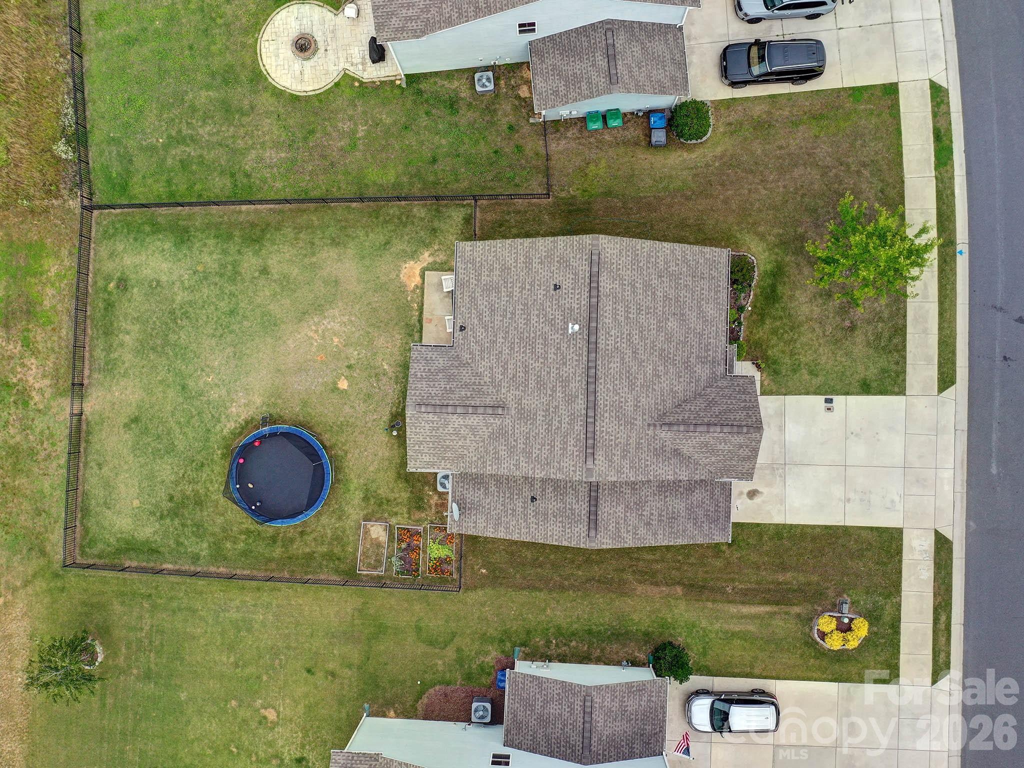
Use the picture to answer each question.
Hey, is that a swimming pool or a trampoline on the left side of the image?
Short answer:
trampoline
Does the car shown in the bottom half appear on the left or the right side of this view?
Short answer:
right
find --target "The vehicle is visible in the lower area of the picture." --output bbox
[685,689,781,739]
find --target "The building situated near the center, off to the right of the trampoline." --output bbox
[406,235,763,549]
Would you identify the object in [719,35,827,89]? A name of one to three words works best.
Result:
car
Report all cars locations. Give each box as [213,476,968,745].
[734,0,841,24]
[685,689,781,739]
[719,35,827,89]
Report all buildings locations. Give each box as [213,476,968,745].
[328,654,675,768]
[406,235,763,549]
[370,0,698,127]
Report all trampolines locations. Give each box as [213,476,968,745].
[221,423,336,527]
